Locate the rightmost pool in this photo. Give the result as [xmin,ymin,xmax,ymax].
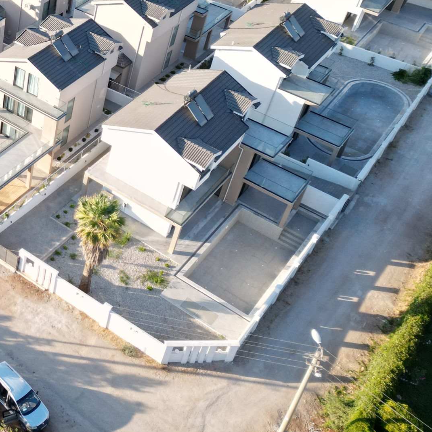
[358,15,432,71]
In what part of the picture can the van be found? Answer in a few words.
bottom left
